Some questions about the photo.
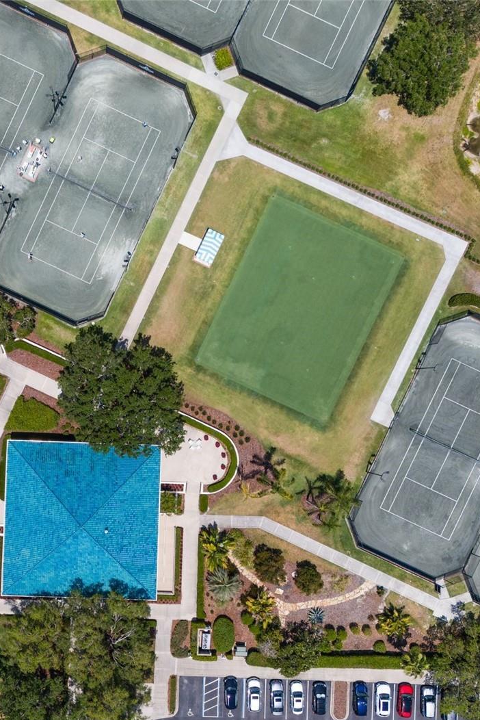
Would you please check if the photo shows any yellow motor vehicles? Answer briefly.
No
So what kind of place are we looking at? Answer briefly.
sports ground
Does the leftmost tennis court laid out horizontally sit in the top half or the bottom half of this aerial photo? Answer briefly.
top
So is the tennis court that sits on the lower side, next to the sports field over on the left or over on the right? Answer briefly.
right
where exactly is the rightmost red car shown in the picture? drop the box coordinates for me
[398,684,415,716]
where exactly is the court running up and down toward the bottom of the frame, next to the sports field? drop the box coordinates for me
[347,316,480,584]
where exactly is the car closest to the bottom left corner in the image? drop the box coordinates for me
[222,675,239,711]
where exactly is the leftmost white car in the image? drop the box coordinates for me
[246,677,263,714]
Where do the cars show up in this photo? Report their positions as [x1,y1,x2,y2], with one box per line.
[269,679,285,715]
[443,696,461,720]
[311,680,329,717]
[375,681,393,718]
[353,680,370,717]
[290,679,306,715]
[420,683,439,719]
[246,677,263,714]
[398,684,415,716]
[222,675,239,711]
